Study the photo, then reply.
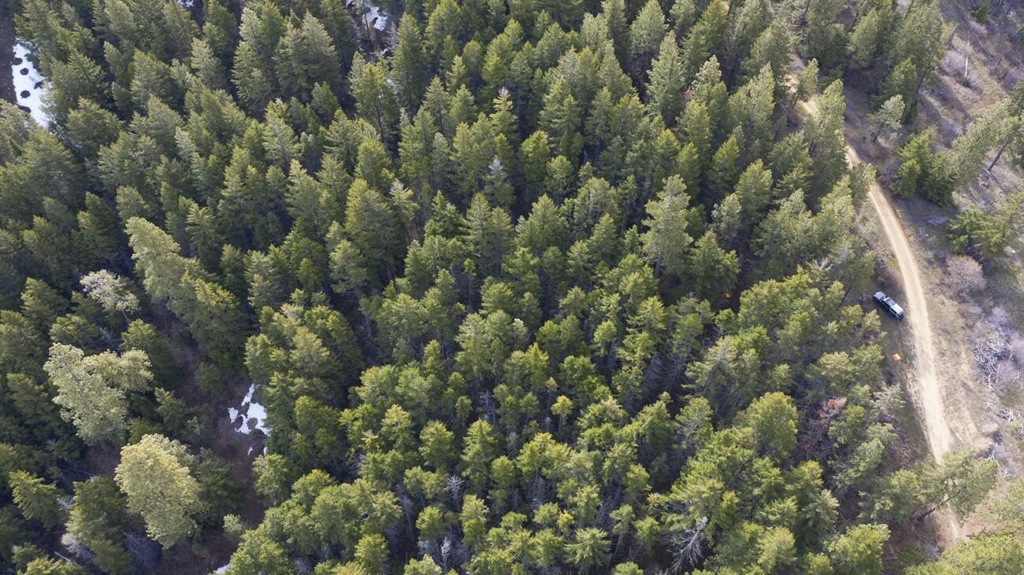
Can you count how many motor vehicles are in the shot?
1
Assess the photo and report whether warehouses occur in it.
No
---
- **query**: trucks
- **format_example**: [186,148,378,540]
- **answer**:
[871,292,907,322]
